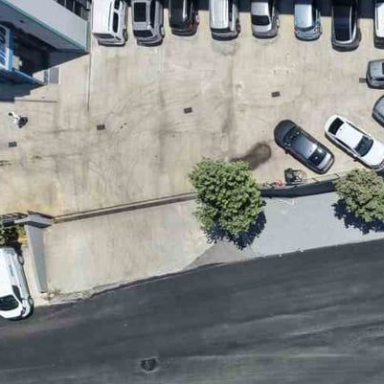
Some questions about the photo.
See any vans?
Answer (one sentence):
Yes, I can see a van in this picture.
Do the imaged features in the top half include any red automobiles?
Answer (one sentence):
No, there is no red automobile in the top half.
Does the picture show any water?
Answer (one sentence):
No, the picture contains no water.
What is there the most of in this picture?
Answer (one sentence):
What you mostly see from above here is paved ground.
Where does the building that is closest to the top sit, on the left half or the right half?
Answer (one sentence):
The building that is closest to the top is on the left side of the image.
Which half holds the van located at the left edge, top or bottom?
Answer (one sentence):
The bottom half of the photo is where the van located at the left edge is.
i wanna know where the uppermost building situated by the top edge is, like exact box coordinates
[0,0,91,54]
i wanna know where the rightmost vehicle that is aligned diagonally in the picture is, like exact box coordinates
[323,112,384,170]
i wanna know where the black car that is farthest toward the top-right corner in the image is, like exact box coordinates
[330,0,362,51]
